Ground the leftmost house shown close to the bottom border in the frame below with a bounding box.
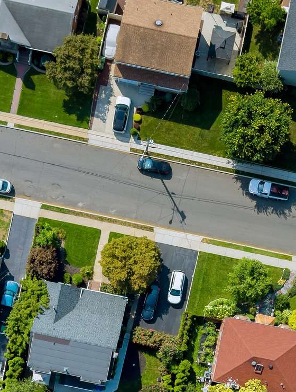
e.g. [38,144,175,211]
[28,278,129,392]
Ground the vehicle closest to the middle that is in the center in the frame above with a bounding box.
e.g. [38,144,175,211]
[137,156,172,177]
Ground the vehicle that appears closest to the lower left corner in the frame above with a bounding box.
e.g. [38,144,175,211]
[0,279,19,327]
